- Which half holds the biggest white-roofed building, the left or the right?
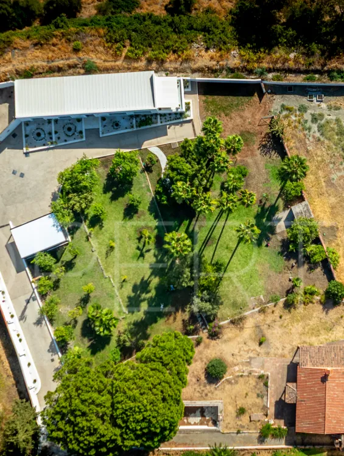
left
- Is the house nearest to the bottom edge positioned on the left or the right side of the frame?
right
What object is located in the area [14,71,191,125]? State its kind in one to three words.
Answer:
building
